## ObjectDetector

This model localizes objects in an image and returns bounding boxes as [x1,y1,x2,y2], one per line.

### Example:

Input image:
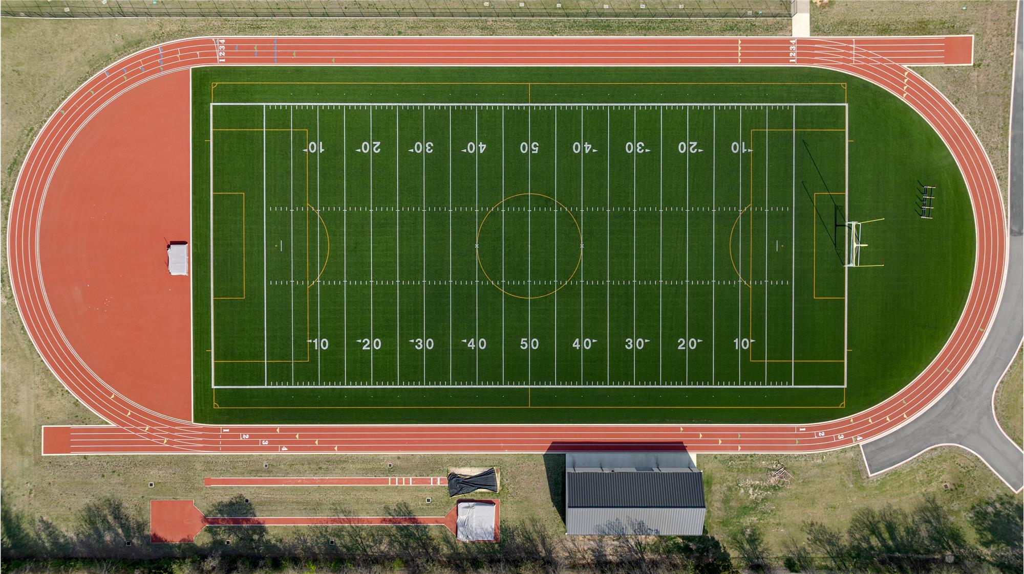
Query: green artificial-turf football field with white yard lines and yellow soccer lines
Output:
[192,66,975,424]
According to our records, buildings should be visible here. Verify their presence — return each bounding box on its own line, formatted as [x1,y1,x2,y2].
[565,465,708,538]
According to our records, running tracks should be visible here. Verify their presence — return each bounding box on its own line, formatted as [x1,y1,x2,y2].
[8,34,1006,456]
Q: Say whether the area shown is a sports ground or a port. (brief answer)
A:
sports ground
